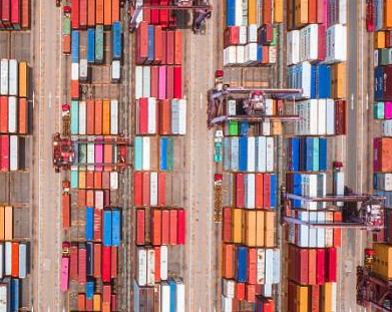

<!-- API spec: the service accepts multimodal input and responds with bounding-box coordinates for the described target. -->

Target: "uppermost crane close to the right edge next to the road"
[287,185,388,226]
